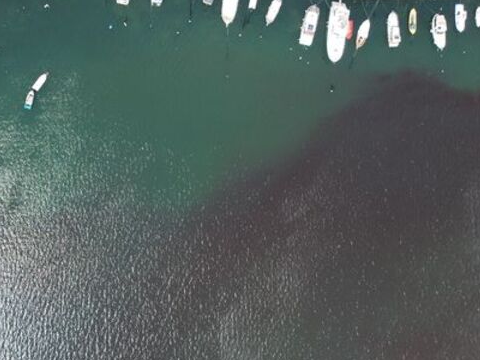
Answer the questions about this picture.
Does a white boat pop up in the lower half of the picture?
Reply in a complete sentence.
No, I can find no white boat in the lower half of the picture.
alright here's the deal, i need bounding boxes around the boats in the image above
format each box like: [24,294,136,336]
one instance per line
[408,8,417,36]
[33,70,49,92]
[352,0,378,60]
[348,21,354,40]
[266,0,283,28]
[325,0,350,62]
[474,3,480,29]
[243,0,259,28]
[453,0,468,32]
[297,0,321,47]
[221,0,240,26]
[202,0,215,7]
[431,9,449,52]
[24,90,36,110]
[385,0,402,47]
